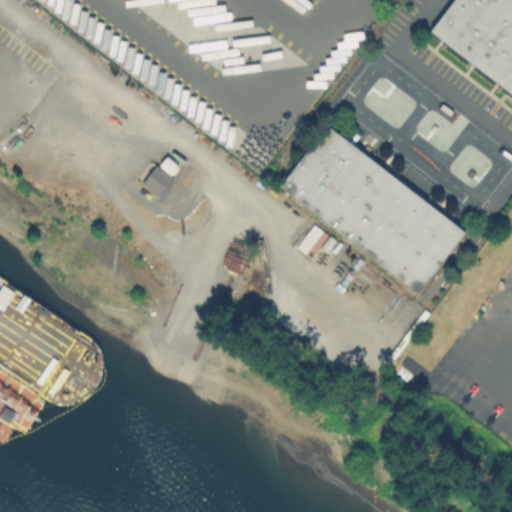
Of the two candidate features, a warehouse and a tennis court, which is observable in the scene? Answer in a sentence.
Visible in the photo is a warehouse.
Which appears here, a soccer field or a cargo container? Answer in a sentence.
The image shows a cargo container.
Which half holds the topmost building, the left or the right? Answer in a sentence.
The topmost building appears in the right half of the scene.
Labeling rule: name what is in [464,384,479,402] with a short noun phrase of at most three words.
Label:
vehicle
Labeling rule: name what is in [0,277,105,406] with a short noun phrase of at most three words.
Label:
ship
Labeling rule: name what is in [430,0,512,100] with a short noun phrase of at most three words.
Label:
building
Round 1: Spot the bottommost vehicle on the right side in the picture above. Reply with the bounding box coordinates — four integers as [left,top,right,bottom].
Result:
[487,406,503,423]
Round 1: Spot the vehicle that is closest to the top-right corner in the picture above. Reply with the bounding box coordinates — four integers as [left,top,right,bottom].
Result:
[440,104,455,118]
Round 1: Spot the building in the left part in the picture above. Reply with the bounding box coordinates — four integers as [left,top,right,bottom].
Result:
[145,156,181,196]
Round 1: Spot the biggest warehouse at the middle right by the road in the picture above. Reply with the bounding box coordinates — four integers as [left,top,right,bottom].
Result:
[285,127,466,294]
